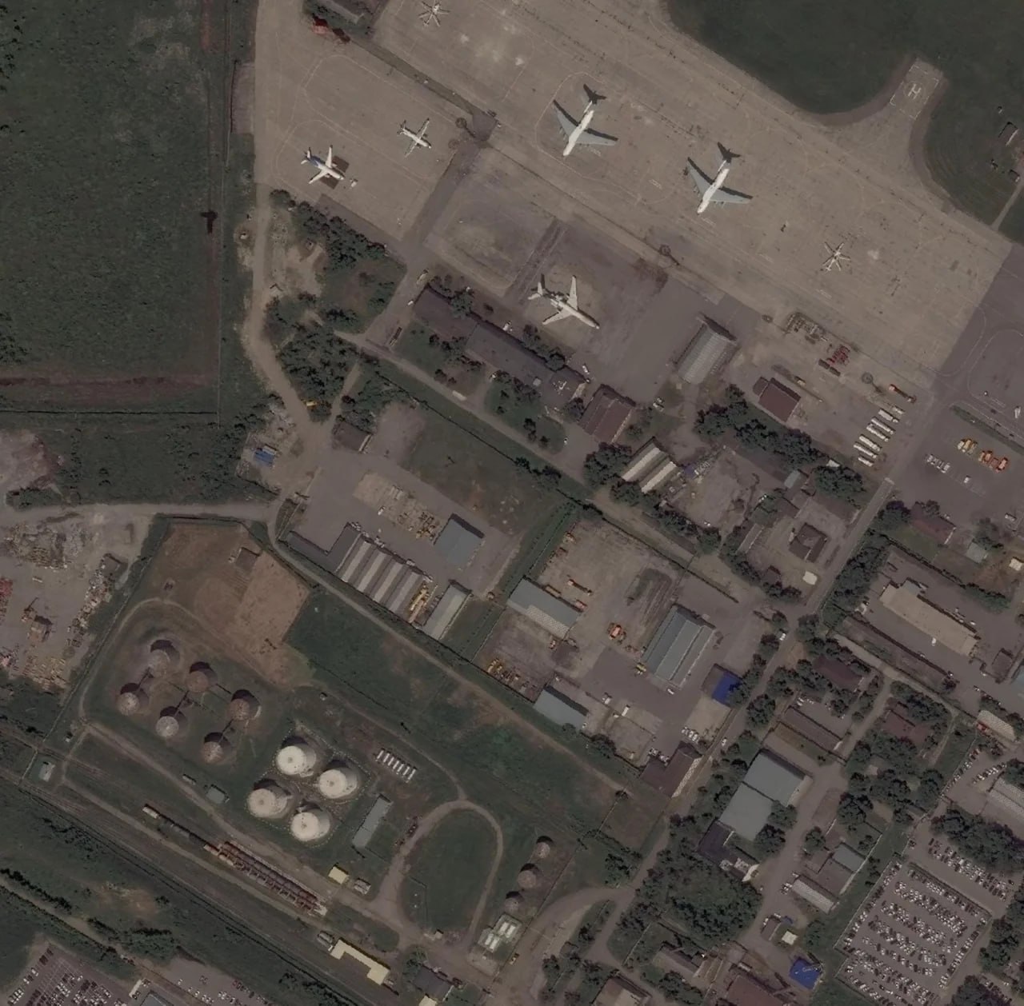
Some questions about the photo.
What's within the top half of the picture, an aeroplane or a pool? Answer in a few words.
aeroplane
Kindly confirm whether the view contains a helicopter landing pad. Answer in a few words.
Yes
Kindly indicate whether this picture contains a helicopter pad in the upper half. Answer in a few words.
Yes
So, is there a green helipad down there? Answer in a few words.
No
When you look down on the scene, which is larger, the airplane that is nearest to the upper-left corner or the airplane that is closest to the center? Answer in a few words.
the airplane that is closest to the center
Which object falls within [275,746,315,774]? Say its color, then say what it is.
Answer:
white storage tank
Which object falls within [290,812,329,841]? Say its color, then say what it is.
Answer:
white storage tank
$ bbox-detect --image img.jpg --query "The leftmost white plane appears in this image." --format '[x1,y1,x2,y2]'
[298,144,342,180]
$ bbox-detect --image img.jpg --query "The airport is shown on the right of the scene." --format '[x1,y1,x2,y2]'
[231,0,1024,520]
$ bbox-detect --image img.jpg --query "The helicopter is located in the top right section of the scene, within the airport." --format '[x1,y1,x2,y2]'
[821,242,850,273]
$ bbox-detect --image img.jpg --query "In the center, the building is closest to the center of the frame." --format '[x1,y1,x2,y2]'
[432,518,489,567]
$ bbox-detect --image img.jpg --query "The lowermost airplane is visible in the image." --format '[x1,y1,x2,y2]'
[526,276,600,327]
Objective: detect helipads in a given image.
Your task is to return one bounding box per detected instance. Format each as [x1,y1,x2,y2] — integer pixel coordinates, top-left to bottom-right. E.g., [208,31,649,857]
[890,61,941,120]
